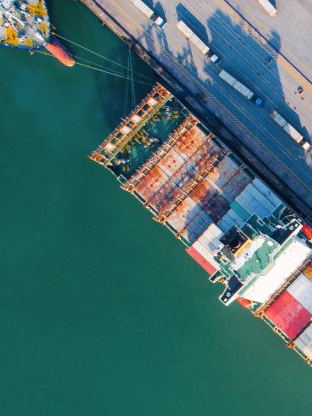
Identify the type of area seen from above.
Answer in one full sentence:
It's a port.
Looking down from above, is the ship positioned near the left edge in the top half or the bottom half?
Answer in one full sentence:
The top half of the photo is where the ship positioned near the left edge is.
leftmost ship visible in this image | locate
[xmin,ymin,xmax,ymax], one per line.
[0,0,75,64]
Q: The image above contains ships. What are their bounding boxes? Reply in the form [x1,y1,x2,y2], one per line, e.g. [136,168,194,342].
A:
[88,83,312,346]
[0,0,75,64]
